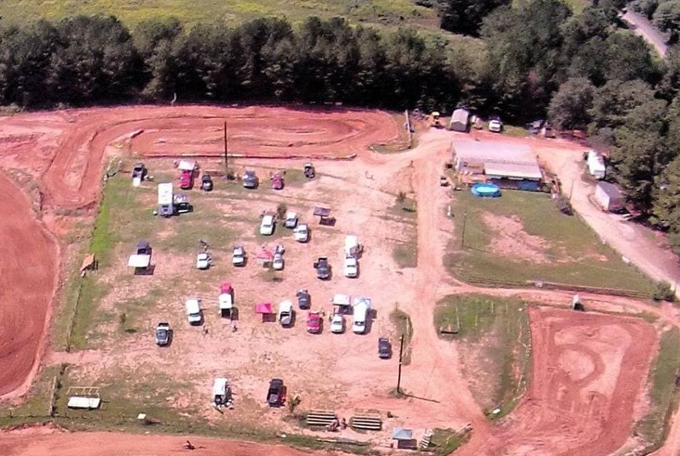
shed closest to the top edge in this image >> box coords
[450,113,469,135]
